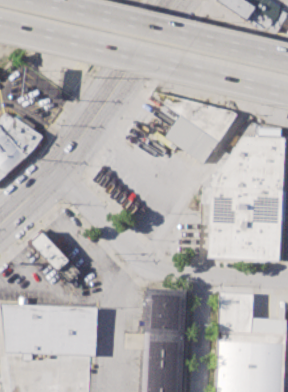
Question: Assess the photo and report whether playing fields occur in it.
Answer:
No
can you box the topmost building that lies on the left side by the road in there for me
[0,113,42,180]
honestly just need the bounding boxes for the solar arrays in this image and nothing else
[254,198,278,222]
[214,198,234,222]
